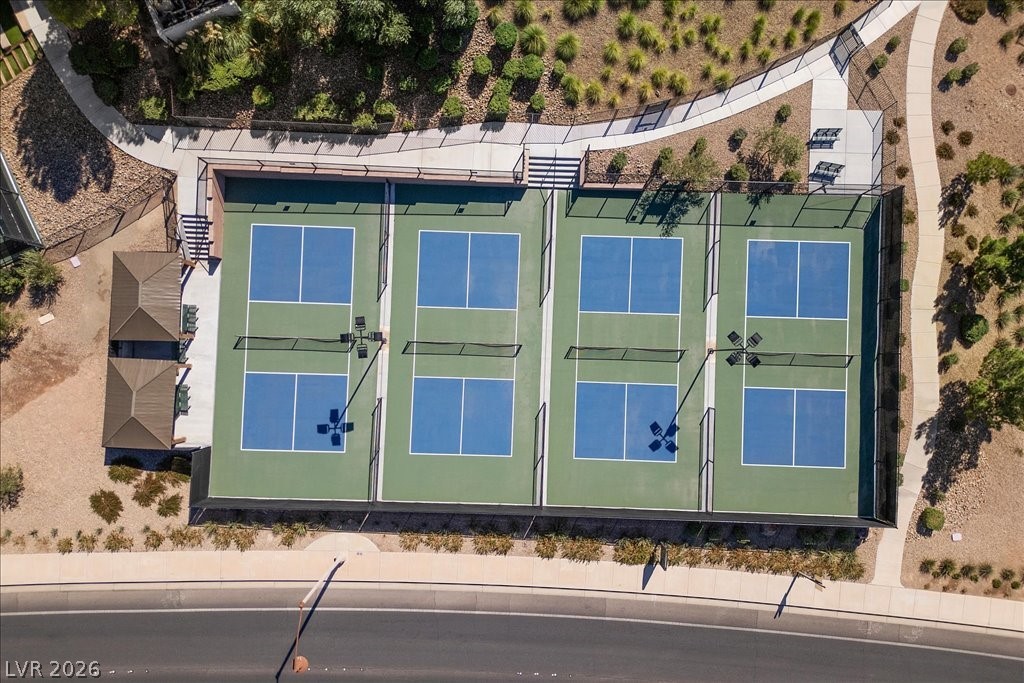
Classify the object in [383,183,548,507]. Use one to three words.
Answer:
sports court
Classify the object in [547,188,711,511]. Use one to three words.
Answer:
sports court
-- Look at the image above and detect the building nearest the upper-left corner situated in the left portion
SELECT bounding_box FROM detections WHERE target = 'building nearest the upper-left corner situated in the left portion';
[106,251,197,341]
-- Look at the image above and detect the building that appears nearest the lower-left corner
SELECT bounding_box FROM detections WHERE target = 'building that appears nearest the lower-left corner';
[101,357,193,450]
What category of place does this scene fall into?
sports ground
